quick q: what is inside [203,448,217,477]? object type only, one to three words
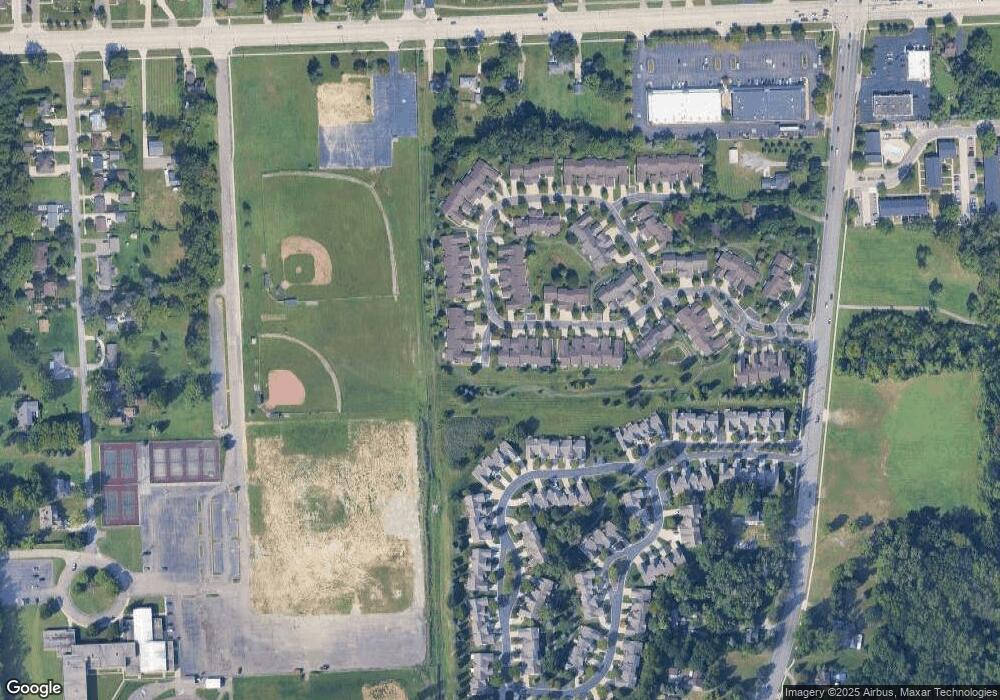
tennis court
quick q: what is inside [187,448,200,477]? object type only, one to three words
tennis court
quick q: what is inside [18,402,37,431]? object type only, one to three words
house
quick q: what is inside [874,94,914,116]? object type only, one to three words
building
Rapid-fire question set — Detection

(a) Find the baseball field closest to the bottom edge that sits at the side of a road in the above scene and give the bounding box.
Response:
[254,332,342,417]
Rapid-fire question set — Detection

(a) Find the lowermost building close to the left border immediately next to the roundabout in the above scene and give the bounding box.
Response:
[43,609,175,700]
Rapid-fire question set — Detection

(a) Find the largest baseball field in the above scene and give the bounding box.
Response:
[261,174,398,320]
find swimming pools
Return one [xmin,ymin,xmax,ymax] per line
[881,136,913,165]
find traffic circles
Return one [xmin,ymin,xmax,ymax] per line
[58,557,131,626]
